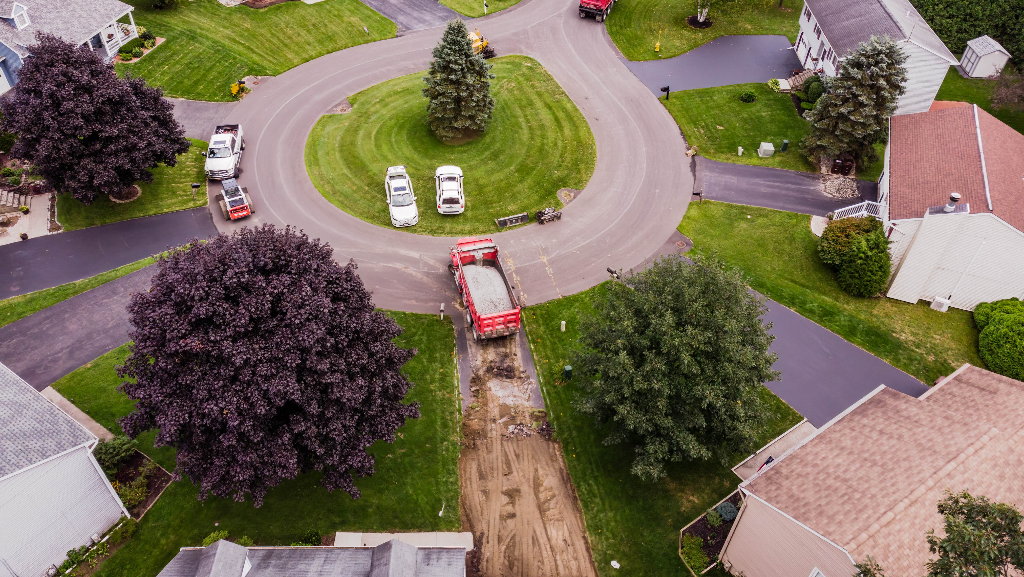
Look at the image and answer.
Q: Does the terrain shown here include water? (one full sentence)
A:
No, the scene doesn't show any water.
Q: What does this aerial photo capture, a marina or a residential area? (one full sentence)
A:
It's a residential area.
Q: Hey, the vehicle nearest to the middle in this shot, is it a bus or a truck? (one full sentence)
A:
The vehicle nearest to the middle appears to be a truck.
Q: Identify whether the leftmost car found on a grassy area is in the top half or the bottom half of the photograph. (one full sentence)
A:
You can find the leftmost car found on a grassy area in the top half.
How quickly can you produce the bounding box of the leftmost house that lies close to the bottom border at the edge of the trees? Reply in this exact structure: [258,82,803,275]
[0,358,127,577]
